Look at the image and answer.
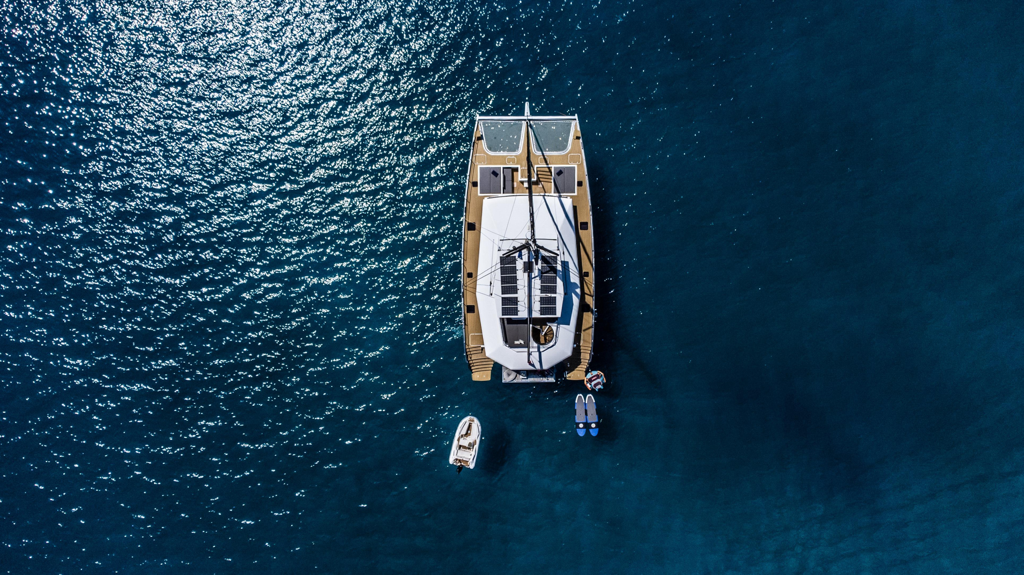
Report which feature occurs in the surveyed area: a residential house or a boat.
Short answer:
boat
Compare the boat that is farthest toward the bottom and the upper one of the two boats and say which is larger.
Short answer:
the upper one of the two boats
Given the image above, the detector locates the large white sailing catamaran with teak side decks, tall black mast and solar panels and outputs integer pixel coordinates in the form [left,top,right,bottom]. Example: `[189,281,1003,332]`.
[461,102,595,383]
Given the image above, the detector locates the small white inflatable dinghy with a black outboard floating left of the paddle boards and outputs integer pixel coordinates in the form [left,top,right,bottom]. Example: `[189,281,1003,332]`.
[449,415,480,476]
